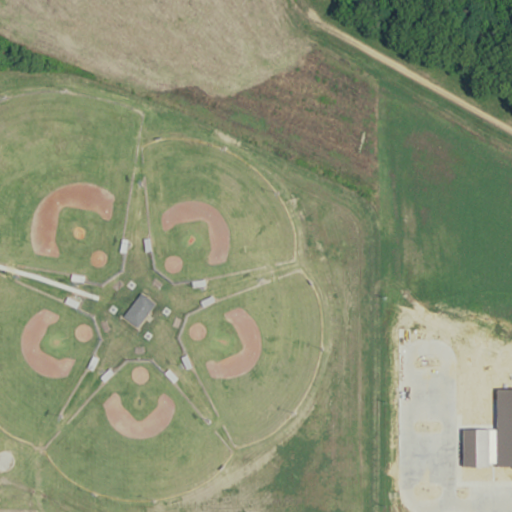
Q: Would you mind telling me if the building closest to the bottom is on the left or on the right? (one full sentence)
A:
The building closest to the bottom is on the right side of the image.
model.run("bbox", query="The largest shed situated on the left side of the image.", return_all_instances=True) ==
[123,292,156,328]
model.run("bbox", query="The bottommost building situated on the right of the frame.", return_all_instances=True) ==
[464,389,512,468]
